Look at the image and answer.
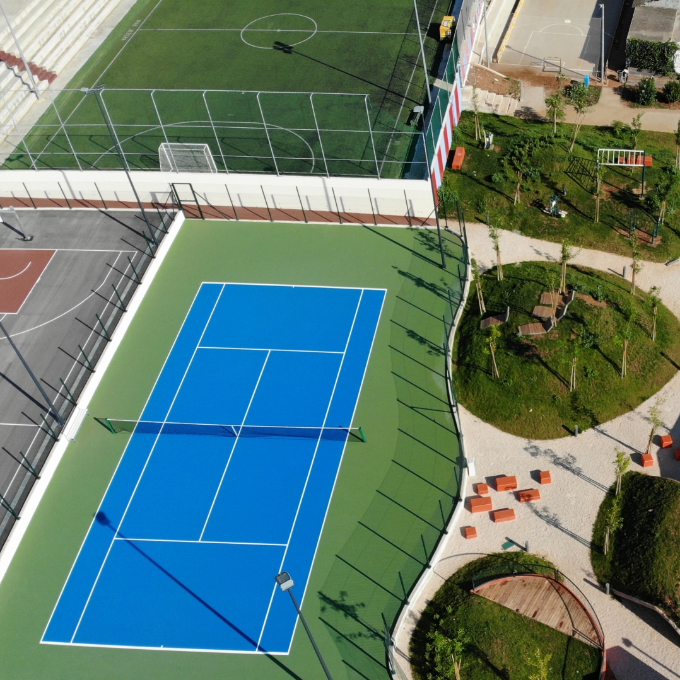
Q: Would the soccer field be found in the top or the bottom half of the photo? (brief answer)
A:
top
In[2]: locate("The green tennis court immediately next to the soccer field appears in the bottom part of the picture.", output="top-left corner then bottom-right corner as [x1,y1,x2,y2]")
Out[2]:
[0,220,465,680]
